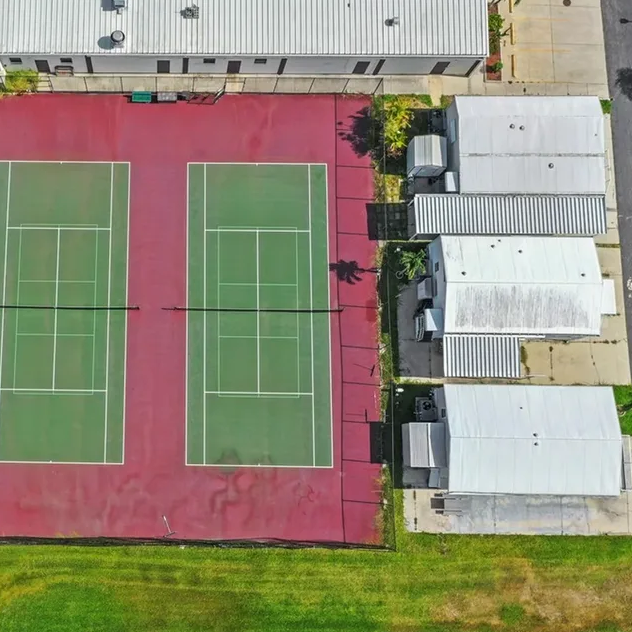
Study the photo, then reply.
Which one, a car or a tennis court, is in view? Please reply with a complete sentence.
Looking from above, you can make out a tennis court.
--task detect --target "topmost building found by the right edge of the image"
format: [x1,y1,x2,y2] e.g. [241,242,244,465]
[445,95,605,196]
